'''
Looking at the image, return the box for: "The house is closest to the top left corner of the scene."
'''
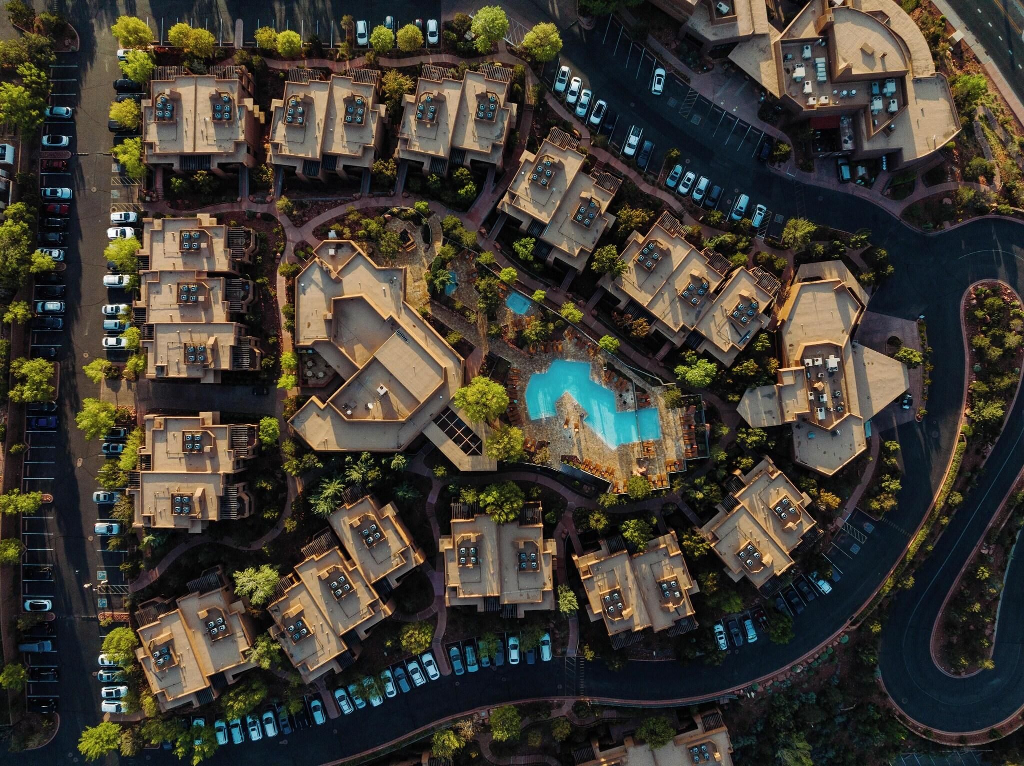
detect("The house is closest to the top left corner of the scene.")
[135,65,268,185]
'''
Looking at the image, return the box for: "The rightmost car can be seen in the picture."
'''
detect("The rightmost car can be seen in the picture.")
[897,389,915,415]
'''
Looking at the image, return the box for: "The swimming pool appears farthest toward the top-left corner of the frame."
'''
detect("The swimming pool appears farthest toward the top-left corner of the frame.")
[443,269,458,298]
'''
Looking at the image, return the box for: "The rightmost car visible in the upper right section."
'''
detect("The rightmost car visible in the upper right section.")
[837,158,853,184]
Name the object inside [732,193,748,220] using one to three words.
car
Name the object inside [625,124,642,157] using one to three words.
vehicle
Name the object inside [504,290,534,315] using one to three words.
swimming pool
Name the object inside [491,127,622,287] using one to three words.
house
